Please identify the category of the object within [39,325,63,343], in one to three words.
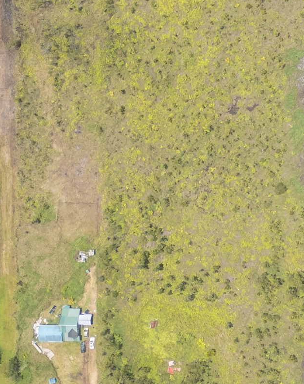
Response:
barn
